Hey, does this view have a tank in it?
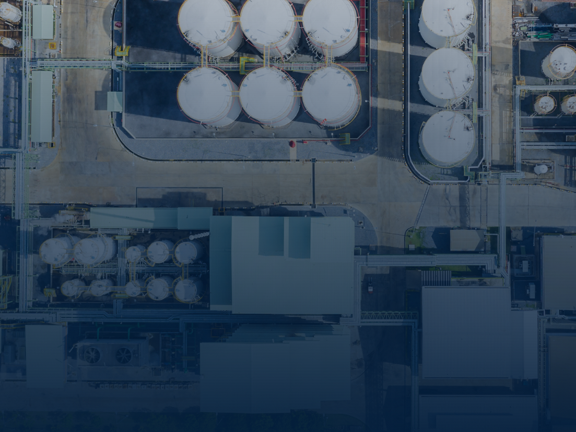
Yes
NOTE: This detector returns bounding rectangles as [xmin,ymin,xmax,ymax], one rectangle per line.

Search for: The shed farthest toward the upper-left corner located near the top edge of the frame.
[31,3,61,43]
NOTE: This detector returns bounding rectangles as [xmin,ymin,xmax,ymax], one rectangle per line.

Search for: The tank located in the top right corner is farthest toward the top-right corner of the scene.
[539,44,576,86]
